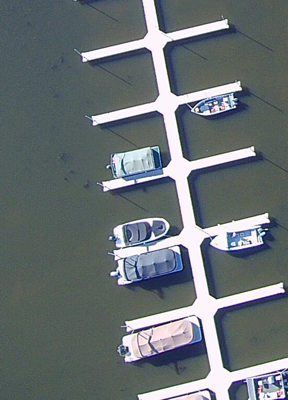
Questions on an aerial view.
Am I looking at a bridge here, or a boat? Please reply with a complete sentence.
This aerial view contains a boat.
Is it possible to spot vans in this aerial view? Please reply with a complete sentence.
No, the photo shows no van.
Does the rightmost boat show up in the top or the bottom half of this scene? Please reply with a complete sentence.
You can find the rightmost boat in the bottom half.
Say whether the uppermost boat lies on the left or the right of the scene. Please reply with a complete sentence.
The uppermost boat is on the right side of the image.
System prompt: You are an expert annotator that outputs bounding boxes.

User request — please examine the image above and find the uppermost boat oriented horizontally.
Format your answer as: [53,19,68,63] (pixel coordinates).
[191,94,236,115]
